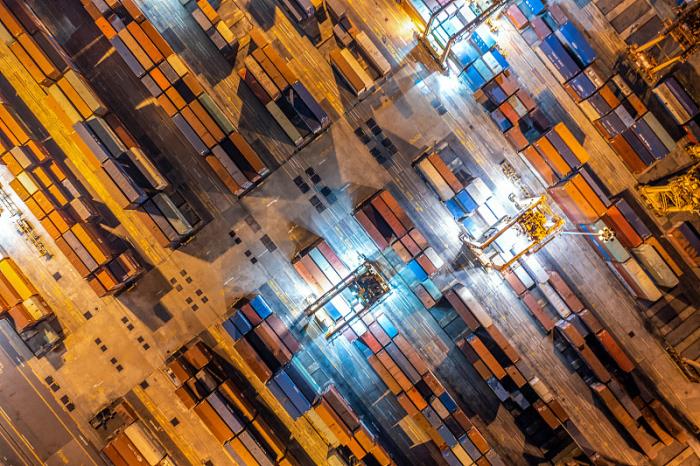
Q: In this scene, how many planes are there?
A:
none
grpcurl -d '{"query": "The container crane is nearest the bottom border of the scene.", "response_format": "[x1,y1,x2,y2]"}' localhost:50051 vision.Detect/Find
[302,251,395,341]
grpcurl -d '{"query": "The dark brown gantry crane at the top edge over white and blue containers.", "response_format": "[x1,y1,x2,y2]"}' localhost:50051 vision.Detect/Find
[412,0,507,70]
